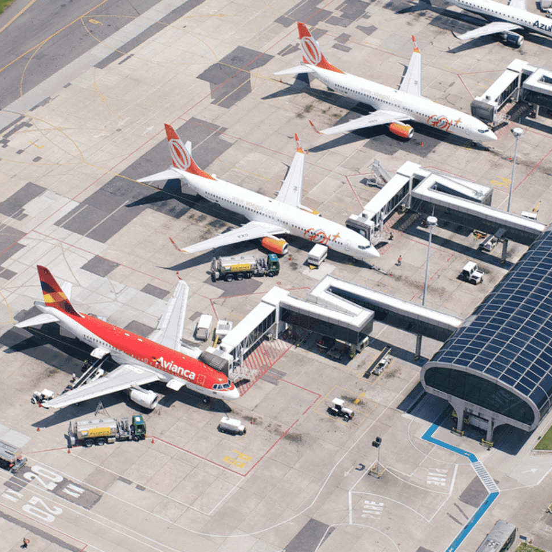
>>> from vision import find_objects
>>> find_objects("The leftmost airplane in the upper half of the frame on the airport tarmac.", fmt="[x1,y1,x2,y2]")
[135,124,377,263]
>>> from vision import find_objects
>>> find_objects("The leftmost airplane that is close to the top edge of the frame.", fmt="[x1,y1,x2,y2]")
[274,23,493,147]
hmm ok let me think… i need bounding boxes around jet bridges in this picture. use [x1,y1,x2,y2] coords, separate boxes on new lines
[466,60,552,144]
[205,275,464,398]
[347,162,549,264]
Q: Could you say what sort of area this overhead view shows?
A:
airport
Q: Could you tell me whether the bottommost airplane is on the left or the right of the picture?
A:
left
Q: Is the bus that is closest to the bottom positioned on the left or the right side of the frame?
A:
right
